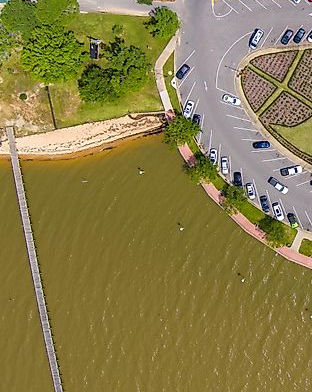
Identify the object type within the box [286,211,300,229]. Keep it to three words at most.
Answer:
car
